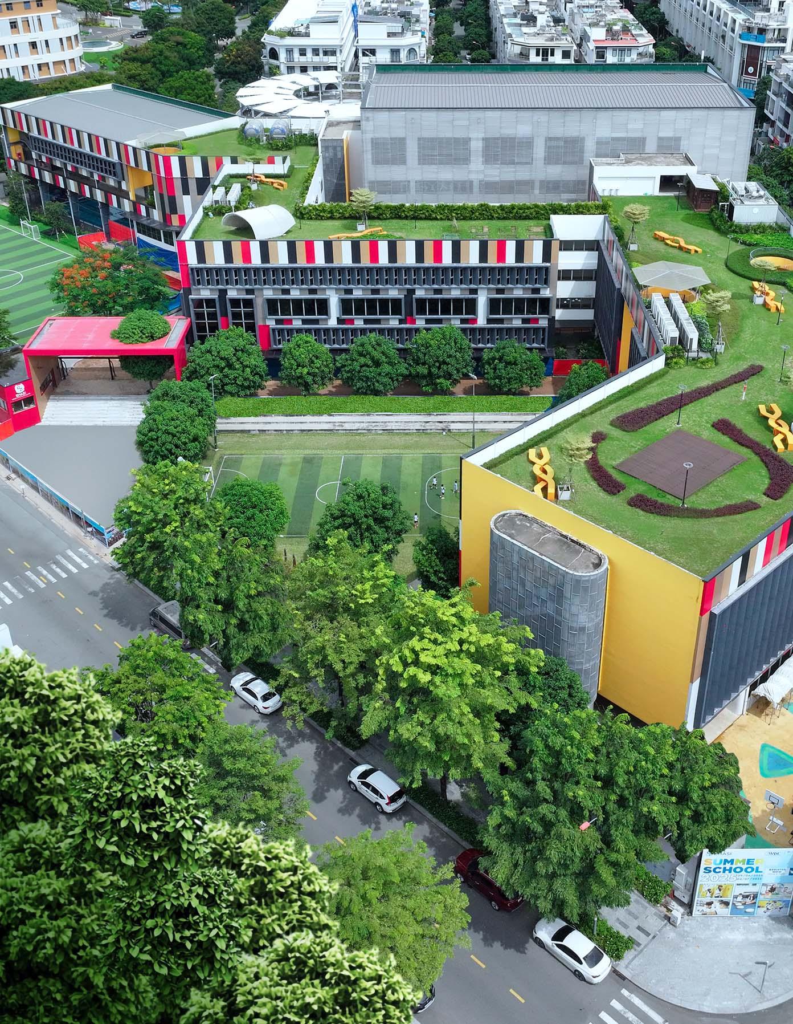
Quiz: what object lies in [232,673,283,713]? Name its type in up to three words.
car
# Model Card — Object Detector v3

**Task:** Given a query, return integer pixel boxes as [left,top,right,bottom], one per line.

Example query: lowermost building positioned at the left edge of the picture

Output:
[0,372,39,431]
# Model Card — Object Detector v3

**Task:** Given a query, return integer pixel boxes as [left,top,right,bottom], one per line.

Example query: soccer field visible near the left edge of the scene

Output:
[0,226,82,349]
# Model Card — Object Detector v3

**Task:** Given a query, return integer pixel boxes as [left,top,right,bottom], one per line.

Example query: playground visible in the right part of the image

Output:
[709,692,793,849]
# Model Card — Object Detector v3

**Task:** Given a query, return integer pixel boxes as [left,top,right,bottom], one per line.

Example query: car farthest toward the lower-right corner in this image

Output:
[537,918,612,982]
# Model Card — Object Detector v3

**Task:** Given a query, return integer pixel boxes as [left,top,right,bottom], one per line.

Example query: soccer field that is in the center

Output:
[222,455,462,535]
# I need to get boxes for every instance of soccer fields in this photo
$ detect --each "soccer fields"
[222,455,462,535]
[0,226,82,349]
